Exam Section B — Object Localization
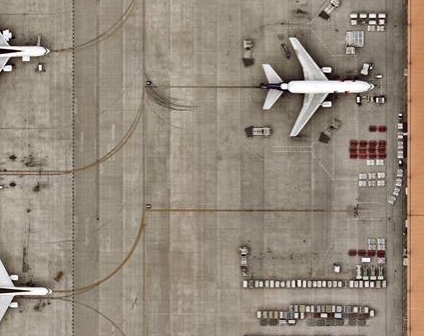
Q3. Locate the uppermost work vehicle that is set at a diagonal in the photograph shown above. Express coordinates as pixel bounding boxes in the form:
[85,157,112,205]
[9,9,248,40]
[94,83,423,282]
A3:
[320,0,340,19]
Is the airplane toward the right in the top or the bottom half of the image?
top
